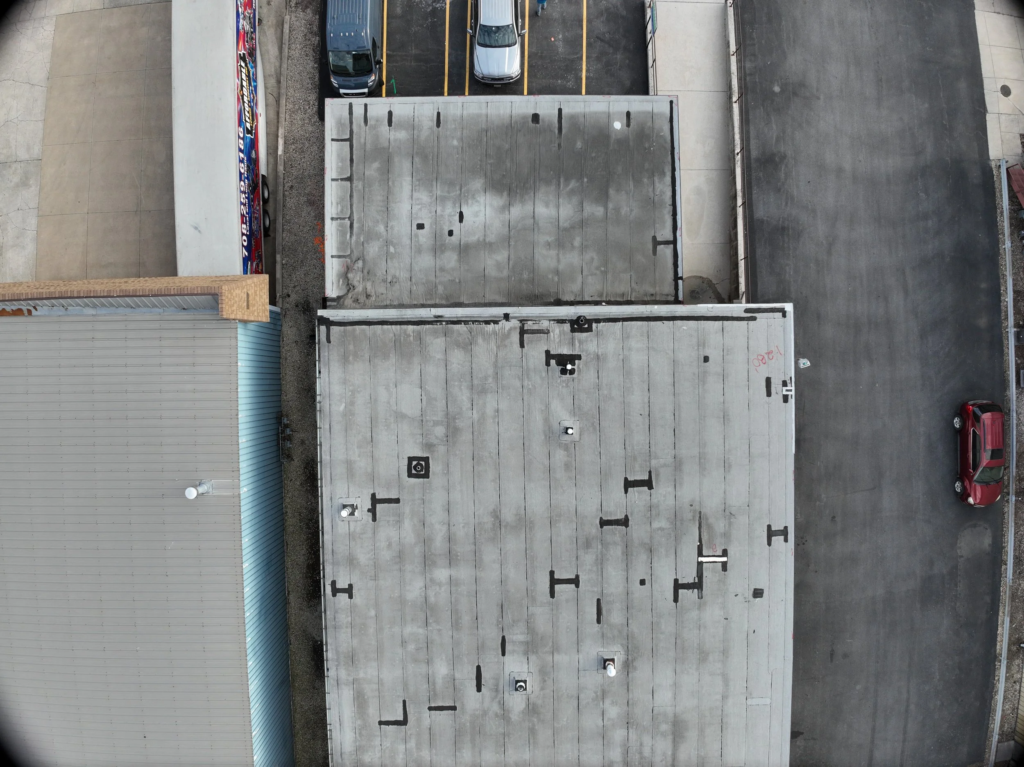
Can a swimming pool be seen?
No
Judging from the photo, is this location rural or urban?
urban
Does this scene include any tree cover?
No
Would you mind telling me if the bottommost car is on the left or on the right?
right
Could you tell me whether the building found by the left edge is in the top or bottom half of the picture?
bottom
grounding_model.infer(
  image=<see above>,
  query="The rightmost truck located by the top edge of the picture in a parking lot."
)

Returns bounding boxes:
[467,0,527,87]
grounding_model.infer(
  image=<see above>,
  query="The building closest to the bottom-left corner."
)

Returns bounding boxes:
[0,271,300,767]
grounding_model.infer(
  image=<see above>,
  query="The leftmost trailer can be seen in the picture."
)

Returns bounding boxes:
[173,0,274,277]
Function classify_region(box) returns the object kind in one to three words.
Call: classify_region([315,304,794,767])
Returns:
building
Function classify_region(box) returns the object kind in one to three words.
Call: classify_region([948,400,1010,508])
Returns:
car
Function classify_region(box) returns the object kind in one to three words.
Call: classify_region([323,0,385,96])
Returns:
van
